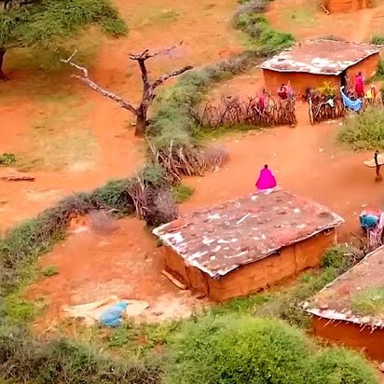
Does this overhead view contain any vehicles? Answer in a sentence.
No, there's no vehicle here.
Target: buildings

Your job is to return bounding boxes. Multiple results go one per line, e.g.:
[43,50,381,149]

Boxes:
[154,193,346,305]
[327,0,374,16]
[257,41,384,102]
[298,248,384,356]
